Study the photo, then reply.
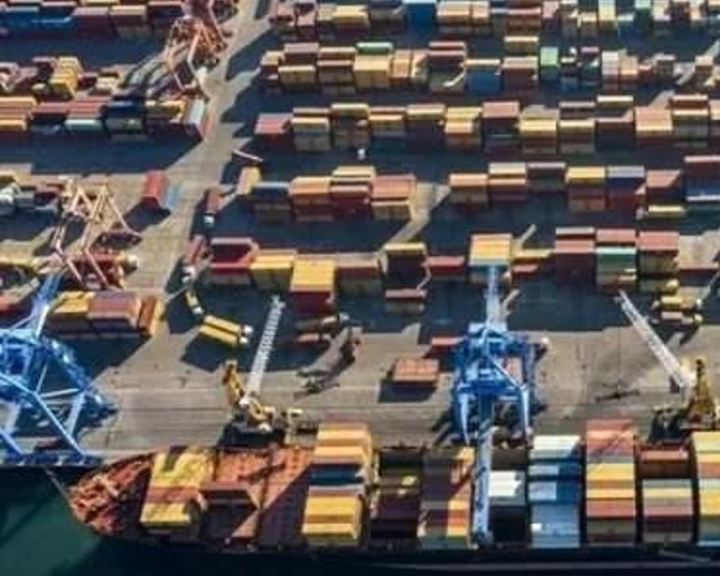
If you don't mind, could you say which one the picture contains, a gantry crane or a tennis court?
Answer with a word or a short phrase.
gantry crane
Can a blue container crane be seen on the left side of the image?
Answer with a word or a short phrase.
Yes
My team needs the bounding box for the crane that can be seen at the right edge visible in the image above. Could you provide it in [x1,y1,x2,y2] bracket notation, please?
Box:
[595,289,720,444]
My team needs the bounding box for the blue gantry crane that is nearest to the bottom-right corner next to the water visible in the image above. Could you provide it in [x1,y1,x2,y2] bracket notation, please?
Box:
[448,251,546,546]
